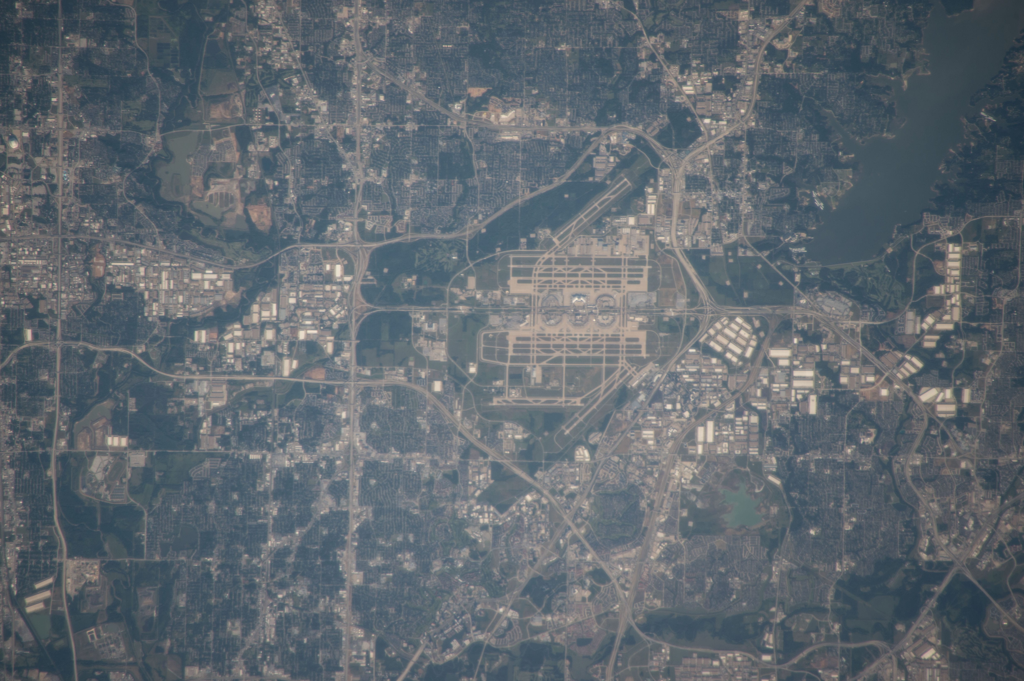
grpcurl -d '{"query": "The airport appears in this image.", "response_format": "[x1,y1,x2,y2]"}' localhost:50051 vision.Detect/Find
[481,179,661,449]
